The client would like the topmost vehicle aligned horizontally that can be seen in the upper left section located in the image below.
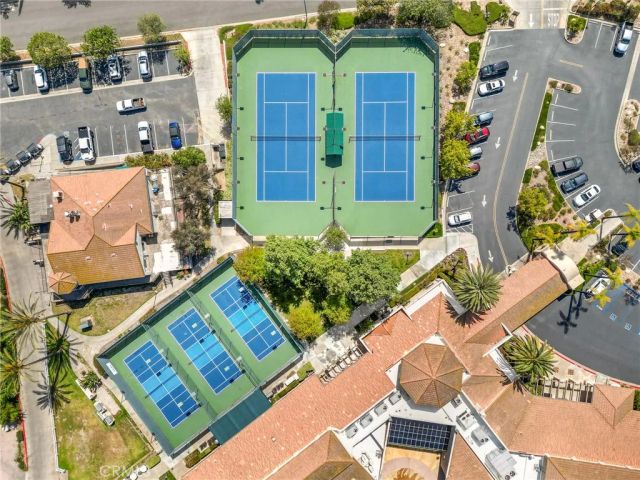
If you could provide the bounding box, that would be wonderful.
[114,96,148,112]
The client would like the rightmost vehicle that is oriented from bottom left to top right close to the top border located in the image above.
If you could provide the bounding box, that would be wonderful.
[612,20,639,56]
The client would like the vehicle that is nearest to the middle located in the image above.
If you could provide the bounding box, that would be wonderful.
[446,211,473,224]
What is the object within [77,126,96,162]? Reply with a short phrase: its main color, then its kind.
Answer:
white vehicle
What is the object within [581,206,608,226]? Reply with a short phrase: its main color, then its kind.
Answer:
white car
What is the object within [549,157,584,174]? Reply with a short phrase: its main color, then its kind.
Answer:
gray vehicle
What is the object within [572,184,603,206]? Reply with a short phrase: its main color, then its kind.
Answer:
white car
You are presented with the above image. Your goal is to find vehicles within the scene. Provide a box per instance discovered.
[32,66,51,94]
[136,51,151,79]
[464,126,493,144]
[54,134,74,162]
[549,157,584,174]
[457,160,483,178]
[612,20,639,56]
[581,206,608,226]
[572,184,603,206]
[446,211,473,224]
[169,121,182,148]
[106,53,123,83]
[582,272,614,298]
[101,412,118,429]
[26,143,44,156]
[476,78,507,96]
[477,59,512,80]
[2,159,22,171]
[3,68,21,94]
[77,126,96,162]
[138,121,154,153]
[472,109,499,128]
[77,56,94,92]
[14,150,33,163]
[559,172,590,192]
[464,144,485,160]
[0,168,11,178]
[92,401,109,418]
[608,238,633,258]
[114,96,148,112]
